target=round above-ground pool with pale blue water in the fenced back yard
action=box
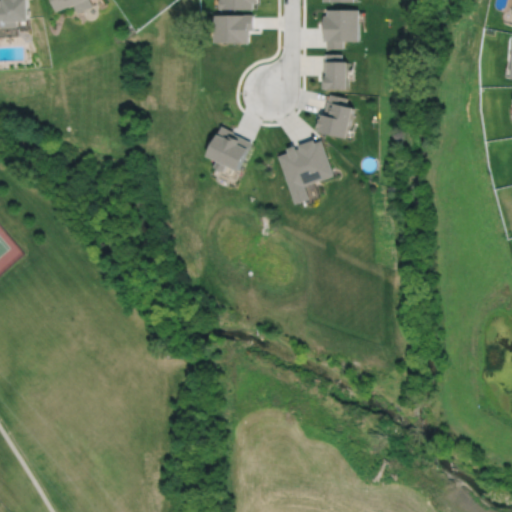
[361,156,382,174]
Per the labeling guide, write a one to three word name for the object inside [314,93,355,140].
house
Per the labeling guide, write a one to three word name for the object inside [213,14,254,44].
house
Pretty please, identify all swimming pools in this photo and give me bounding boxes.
[495,0,508,10]
[361,156,382,174]
[0,46,24,62]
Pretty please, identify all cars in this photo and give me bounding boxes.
[306,105,318,112]
[317,94,326,100]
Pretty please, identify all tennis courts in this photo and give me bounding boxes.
[0,226,24,274]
